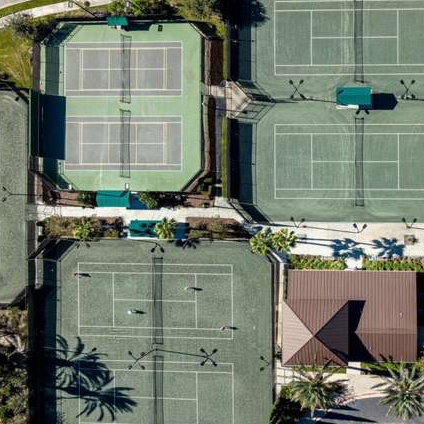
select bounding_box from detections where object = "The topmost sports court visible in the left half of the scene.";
[41,22,203,106]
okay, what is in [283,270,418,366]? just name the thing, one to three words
building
